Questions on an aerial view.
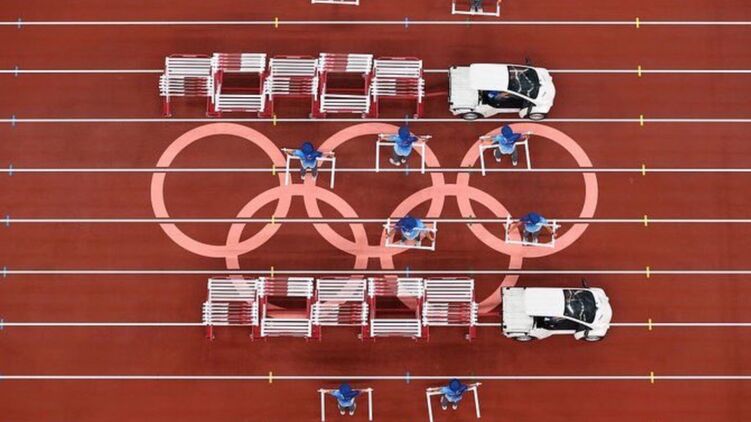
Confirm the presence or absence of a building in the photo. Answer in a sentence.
No, no building is visible in the view.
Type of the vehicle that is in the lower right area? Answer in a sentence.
From above, the vehicle that is in the lower right area can be identified as a car.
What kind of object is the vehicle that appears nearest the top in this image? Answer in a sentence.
I'd identify the vehicle that appears nearest the top as an automobile.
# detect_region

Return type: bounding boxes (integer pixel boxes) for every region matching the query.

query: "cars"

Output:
[502,278,612,341]
[448,56,555,119]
